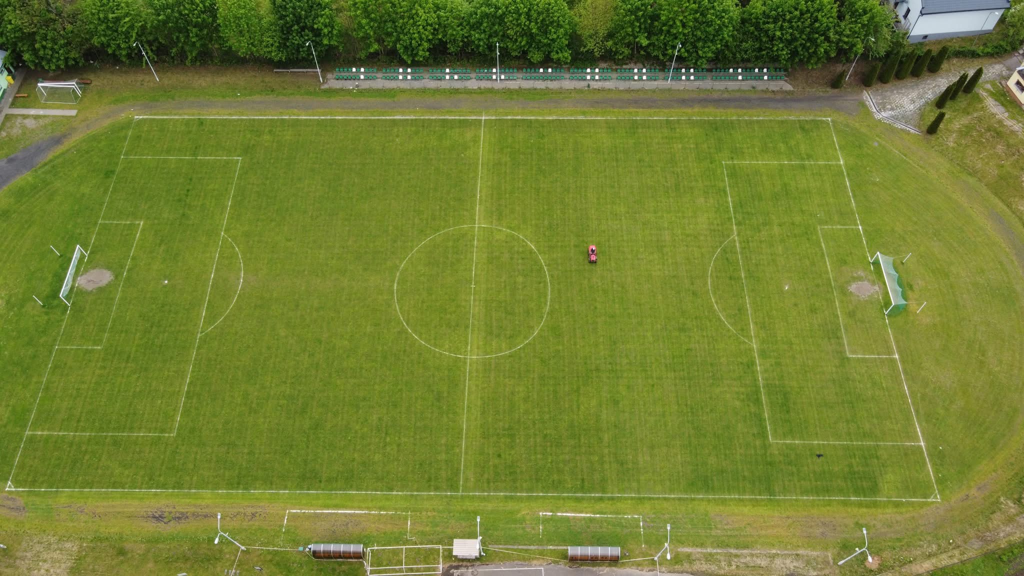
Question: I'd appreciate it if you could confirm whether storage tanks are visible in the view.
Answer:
No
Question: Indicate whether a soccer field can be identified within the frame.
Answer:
Yes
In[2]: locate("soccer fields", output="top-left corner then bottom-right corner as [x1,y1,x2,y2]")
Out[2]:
[6,111,939,500]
